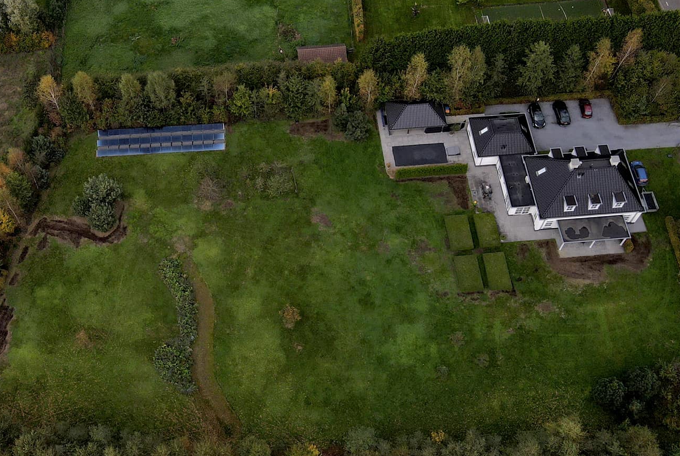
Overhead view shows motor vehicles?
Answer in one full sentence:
Yes, the frame does contain a motor vehicle.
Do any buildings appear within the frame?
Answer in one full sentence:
Yes, I can see a building in this picture.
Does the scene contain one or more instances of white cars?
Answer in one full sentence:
No, there isn't any white car down there.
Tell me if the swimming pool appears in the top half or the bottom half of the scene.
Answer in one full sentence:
The swimming pool sits in the top half of the picture.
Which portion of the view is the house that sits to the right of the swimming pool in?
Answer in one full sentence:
The house that sits to the right of the swimming pool sits in the right section of the image.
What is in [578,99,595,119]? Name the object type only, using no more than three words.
car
